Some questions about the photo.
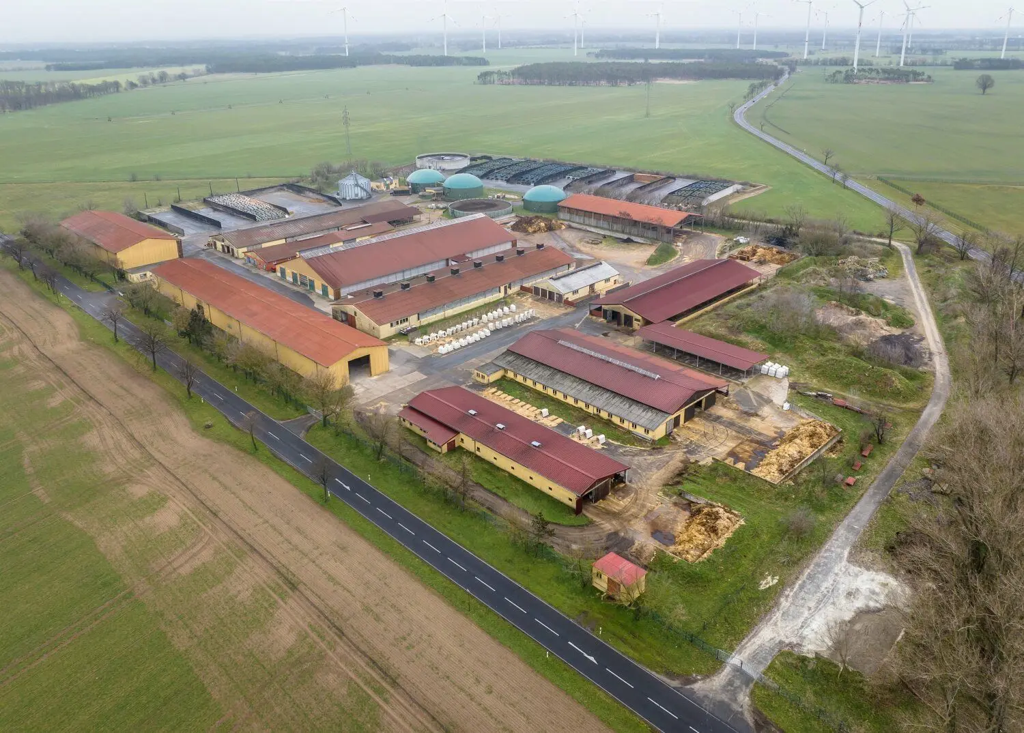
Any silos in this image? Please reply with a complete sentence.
Yes, the photo shows a silo.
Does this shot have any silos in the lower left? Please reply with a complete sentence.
No, in the lower left there is no silo.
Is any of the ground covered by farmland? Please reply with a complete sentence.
Yes, farmland shows up in the scene.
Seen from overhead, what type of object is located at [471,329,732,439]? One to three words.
barn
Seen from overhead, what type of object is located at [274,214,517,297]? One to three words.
barn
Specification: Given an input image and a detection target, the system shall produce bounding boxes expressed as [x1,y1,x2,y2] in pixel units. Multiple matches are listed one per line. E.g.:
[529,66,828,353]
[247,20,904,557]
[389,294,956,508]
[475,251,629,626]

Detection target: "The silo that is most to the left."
[336,169,371,200]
